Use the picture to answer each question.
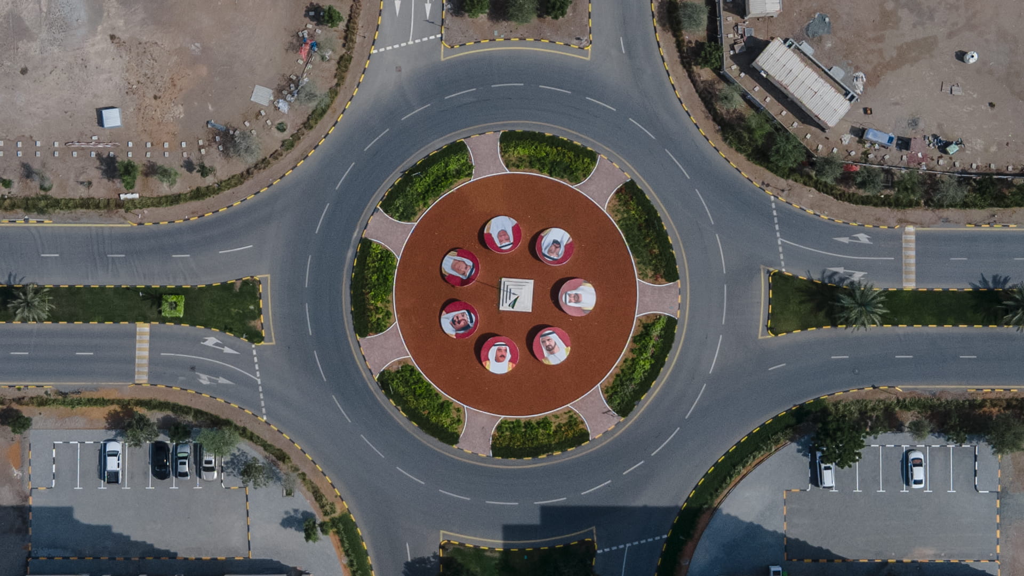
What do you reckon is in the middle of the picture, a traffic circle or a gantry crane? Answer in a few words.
traffic circle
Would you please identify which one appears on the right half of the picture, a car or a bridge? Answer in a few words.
car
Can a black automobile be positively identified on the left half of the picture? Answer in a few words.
Yes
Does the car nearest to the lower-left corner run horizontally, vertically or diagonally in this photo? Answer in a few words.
vertically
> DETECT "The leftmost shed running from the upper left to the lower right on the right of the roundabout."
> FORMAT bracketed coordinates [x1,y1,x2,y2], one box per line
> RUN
[752,38,851,129]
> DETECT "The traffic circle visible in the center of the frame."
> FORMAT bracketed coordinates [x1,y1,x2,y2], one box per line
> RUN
[273,52,758,537]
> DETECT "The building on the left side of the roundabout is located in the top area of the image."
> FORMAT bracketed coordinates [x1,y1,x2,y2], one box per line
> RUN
[101,108,122,128]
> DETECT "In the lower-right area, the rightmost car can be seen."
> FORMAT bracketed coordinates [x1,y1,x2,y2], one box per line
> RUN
[907,449,925,489]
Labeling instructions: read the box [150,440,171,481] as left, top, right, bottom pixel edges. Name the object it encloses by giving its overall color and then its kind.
black car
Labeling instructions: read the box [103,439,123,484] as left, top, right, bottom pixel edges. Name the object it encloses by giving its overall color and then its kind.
white car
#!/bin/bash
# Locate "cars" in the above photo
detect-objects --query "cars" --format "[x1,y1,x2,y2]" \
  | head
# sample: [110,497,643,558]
[907,449,925,489]
[174,442,192,481]
[103,439,123,484]
[150,440,171,481]
[815,445,834,489]
[199,441,218,482]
